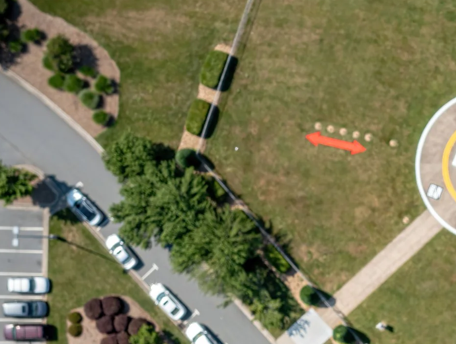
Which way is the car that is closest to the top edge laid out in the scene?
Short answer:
on a diagonal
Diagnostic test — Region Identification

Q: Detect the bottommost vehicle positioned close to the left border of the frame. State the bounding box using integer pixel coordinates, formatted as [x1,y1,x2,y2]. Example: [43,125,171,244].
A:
[6,323,50,342]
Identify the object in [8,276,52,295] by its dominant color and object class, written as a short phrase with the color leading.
white car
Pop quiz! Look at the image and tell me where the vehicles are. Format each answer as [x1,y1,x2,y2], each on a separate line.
[71,186,107,229]
[105,231,138,273]
[8,276,52,295]
[150,280,187,323]
[4,300,50,319]
[6,323,50,342]
[187,319,218,344]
